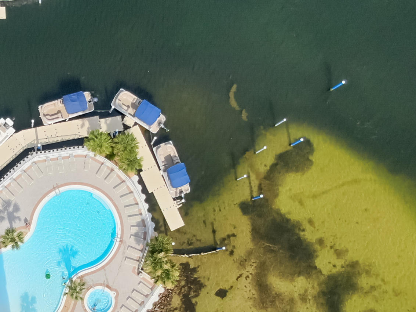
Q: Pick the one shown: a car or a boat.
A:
boat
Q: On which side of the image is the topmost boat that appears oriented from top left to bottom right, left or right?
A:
left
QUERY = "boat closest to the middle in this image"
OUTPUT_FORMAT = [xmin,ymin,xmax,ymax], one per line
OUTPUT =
[154,142,189,207]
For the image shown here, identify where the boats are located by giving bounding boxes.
[112,90,170,134]
[154,142,189,207]
[39,94,103,125]
[0,117,20,146]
